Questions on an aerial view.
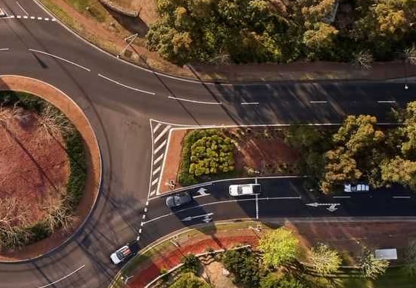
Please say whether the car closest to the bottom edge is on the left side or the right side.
left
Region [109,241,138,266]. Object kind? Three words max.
car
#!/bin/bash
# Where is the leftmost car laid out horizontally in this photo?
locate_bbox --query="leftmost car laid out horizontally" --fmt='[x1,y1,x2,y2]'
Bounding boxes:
[164,192,195,208]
